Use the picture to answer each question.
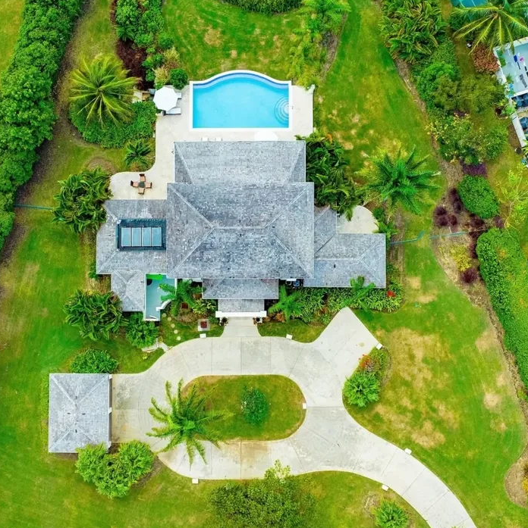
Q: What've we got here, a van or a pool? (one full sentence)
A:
It is a pool that can be seen here.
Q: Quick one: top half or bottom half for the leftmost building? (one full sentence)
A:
The bottom half of the photo is where the leftmost building is.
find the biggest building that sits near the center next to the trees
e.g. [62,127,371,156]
[95,140,387,319]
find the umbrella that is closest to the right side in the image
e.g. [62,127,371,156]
[255,125,276,140]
